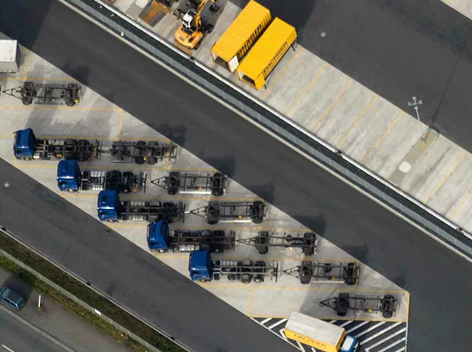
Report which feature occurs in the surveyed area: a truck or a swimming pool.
truck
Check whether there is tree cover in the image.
No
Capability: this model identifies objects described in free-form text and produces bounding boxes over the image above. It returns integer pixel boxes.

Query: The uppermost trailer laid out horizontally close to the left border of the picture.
[2,83,84,106]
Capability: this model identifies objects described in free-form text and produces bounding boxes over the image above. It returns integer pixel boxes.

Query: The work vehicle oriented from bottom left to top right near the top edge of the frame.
[167,0,227,53]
